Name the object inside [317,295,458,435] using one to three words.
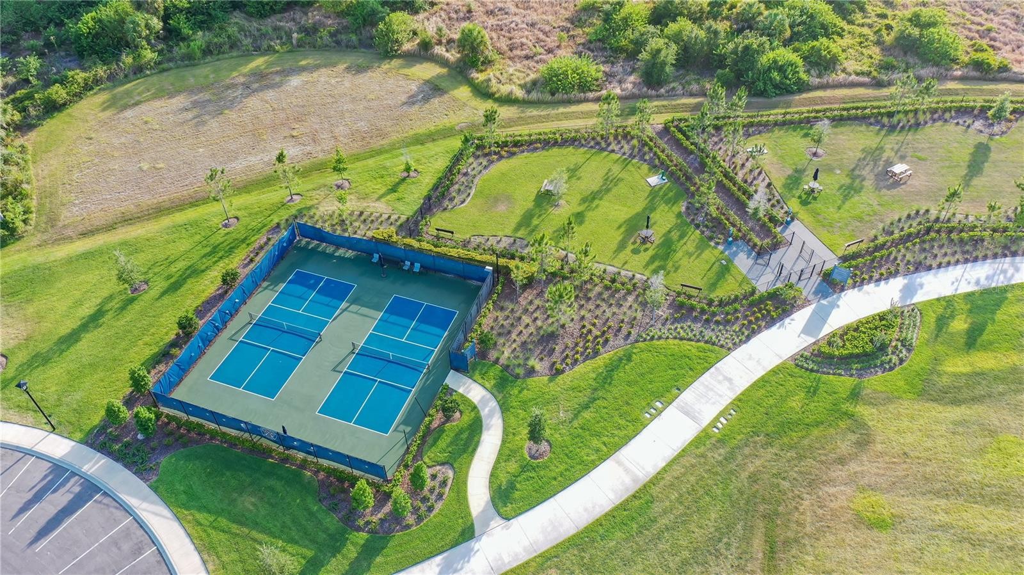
sports court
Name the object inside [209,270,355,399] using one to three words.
sports court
